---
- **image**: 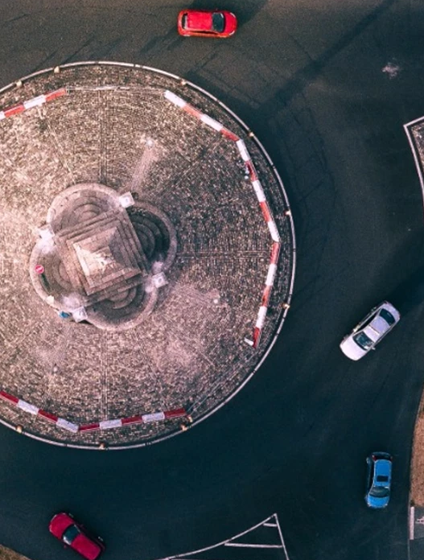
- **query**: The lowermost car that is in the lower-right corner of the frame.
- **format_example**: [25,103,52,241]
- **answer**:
[365,452,393,507]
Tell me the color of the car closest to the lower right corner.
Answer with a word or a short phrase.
blue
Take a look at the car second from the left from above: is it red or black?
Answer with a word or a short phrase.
red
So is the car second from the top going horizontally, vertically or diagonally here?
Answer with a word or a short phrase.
diagonally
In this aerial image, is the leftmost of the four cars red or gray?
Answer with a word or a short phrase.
red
